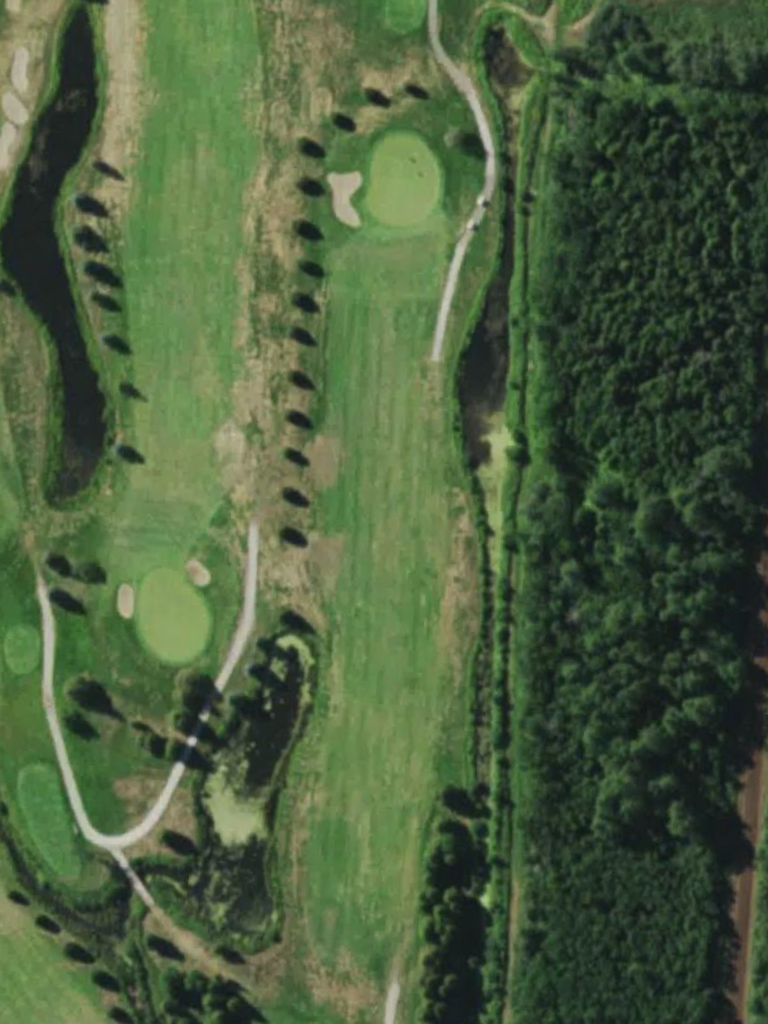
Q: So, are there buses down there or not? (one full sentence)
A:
No, there isn't any bus down there.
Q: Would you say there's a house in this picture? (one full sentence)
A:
No, I find no house anywhere in the image.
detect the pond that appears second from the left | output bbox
[204,634,316,850]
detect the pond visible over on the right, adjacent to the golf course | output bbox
[457,29,529,595]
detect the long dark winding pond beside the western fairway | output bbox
[0,7,106,500]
